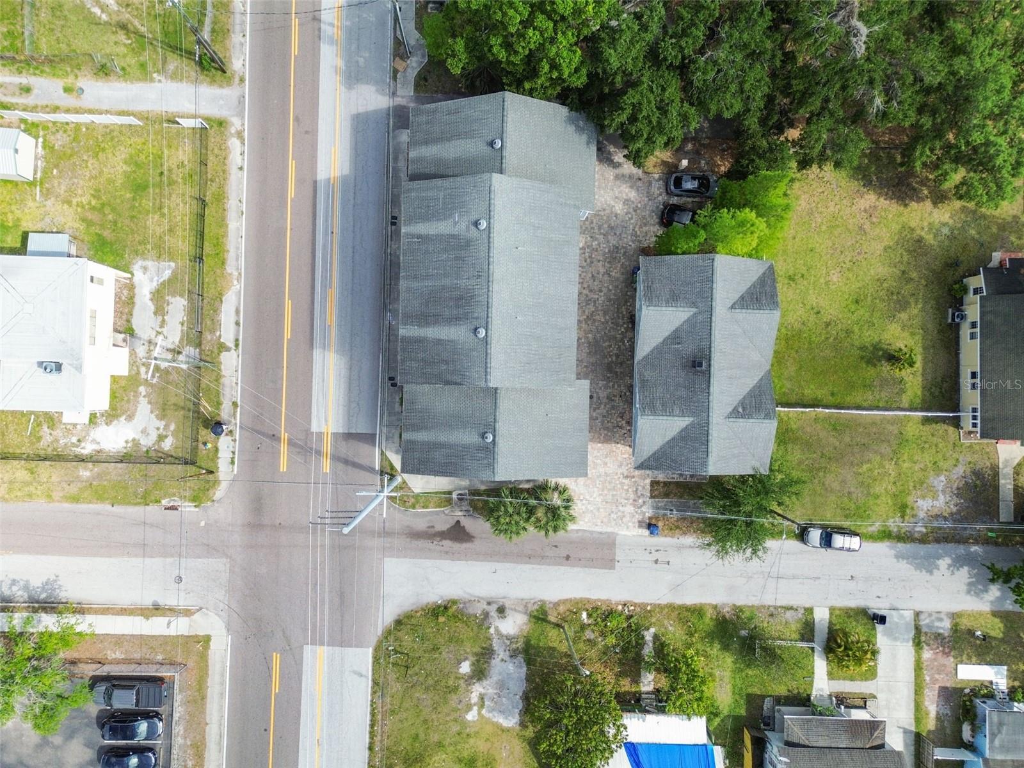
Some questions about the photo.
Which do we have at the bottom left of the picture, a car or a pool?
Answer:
car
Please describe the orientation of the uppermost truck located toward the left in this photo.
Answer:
horizontally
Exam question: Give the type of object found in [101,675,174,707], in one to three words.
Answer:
truck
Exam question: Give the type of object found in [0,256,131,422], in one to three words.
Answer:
house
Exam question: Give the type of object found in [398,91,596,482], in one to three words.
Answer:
building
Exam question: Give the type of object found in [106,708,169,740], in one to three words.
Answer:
car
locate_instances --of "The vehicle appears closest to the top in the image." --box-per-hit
[661,174,715,201]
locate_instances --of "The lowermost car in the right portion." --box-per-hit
[800,524,859,552]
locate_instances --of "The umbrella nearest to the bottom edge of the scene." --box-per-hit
[208,422,222,436]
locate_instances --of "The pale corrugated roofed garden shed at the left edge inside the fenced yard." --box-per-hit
[0,128,36,183]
